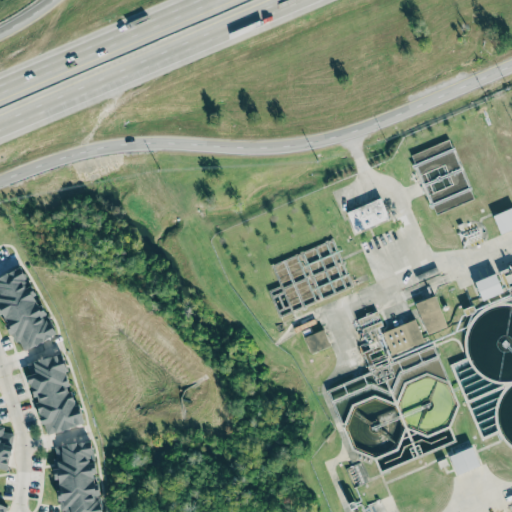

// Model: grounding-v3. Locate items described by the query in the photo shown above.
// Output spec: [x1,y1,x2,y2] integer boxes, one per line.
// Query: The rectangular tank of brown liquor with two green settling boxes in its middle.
[412,140,475,214]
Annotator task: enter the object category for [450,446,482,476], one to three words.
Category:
shed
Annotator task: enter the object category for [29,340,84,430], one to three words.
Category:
building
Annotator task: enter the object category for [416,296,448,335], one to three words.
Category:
building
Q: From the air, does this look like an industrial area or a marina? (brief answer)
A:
industrial area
